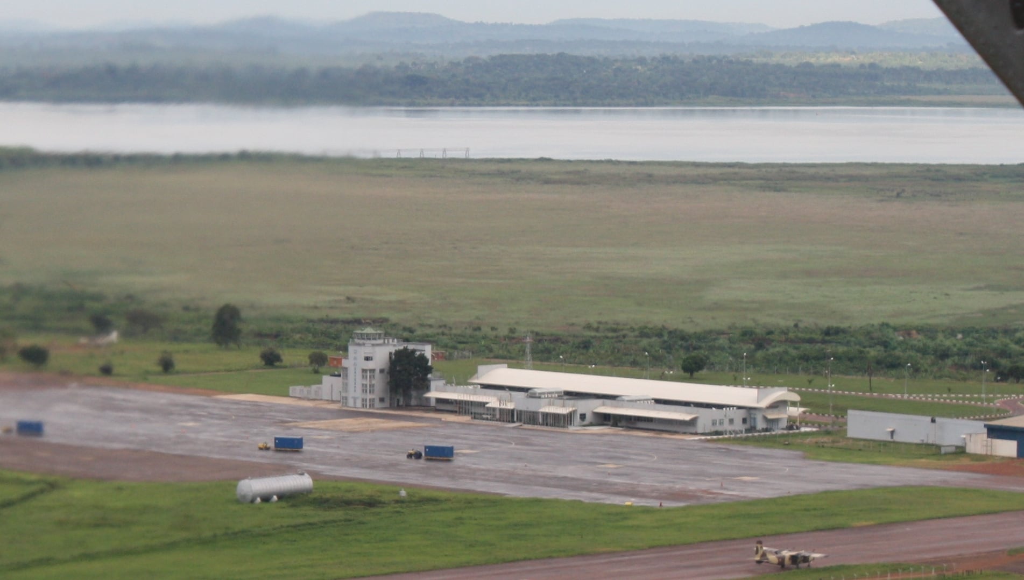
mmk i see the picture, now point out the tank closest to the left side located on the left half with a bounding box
[237,467,311,502]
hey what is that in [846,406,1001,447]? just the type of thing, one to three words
shed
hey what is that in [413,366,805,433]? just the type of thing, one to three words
building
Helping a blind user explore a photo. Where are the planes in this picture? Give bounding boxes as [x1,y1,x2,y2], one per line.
[749,541,824,567]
